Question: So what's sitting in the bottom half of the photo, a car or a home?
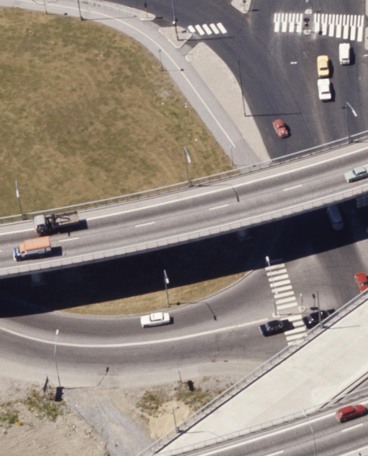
car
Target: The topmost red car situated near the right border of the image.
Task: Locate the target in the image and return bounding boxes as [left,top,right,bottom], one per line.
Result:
[355,270,368,293]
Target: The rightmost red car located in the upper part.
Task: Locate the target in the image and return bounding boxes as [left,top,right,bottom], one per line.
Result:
[273,119,288,138]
